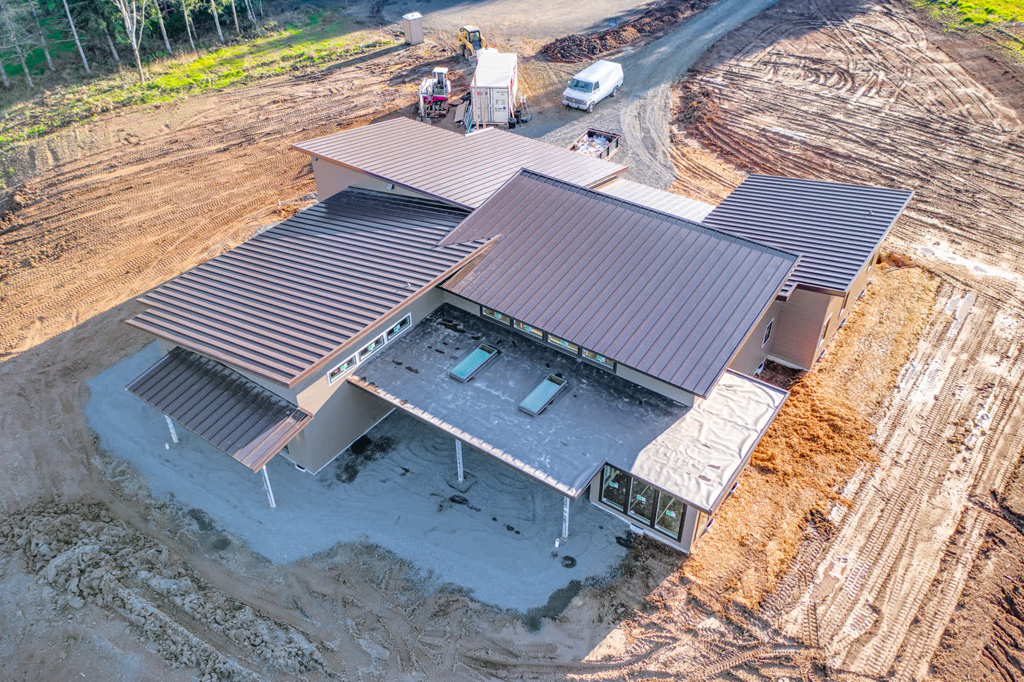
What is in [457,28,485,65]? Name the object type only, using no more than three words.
work vehicle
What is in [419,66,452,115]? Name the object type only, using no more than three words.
work vehicle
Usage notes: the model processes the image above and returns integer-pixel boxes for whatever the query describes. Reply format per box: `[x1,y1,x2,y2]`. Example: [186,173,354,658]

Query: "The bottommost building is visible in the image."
[120,117,915,552]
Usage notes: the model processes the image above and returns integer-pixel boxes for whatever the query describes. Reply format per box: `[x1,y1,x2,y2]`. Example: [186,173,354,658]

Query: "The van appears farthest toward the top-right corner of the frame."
[561,62,621,110]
